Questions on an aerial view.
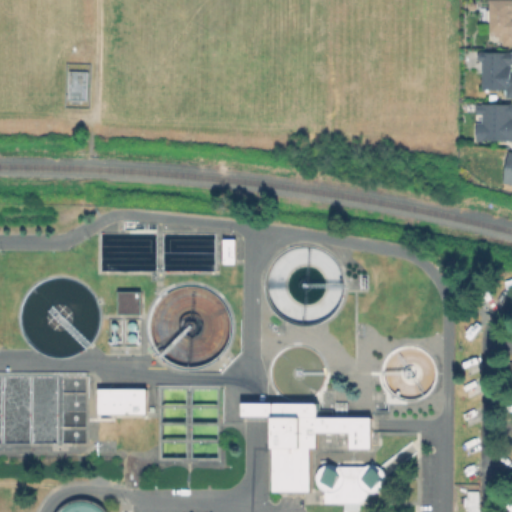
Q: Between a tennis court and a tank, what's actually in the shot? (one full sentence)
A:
It is a tank that can be seen here.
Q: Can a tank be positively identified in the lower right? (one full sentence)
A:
Yes, a tank can be seen in the lower right.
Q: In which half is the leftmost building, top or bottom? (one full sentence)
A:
You can find the leftmost building in the top half.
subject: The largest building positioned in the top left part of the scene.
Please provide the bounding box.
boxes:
[70,72,89,102]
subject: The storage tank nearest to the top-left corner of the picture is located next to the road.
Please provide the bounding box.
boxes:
[100,232,158,273]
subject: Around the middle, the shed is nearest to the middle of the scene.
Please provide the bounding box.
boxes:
[222,239,236,266]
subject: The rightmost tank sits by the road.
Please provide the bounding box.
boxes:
[372,346,438,404]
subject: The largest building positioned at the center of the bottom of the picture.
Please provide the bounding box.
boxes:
[240,403,372,494]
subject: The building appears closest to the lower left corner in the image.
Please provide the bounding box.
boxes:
[90,388,146,422]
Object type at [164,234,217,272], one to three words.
storage tank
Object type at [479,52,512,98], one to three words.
house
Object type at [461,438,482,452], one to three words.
vehicle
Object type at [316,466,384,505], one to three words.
building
